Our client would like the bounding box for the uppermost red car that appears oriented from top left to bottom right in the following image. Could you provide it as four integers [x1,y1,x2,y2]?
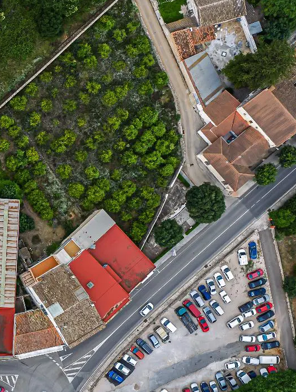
[185,300,199,315]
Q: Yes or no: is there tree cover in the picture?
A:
Yes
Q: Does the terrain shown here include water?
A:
No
